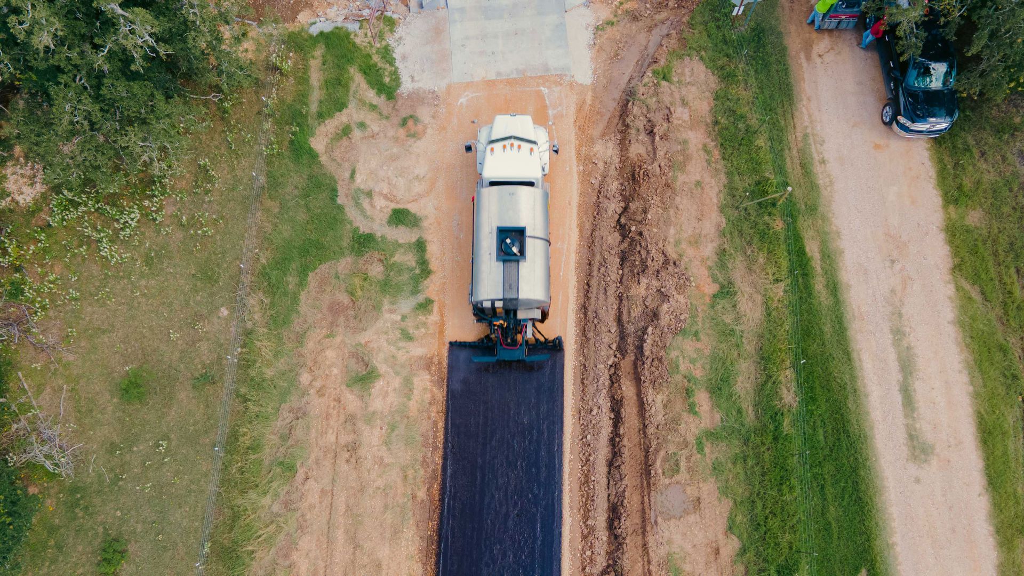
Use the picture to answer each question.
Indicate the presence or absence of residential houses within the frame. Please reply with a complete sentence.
No, no residential house is visible in the scene.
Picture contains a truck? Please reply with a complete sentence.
Yes, there's a truck here.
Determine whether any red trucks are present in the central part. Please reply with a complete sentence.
No, I can find no red truck in the central part.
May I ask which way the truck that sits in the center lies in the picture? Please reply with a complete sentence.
The truck that sits in the center is oriented up and down.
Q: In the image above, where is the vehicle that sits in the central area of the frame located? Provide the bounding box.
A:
[448,112,565,369]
